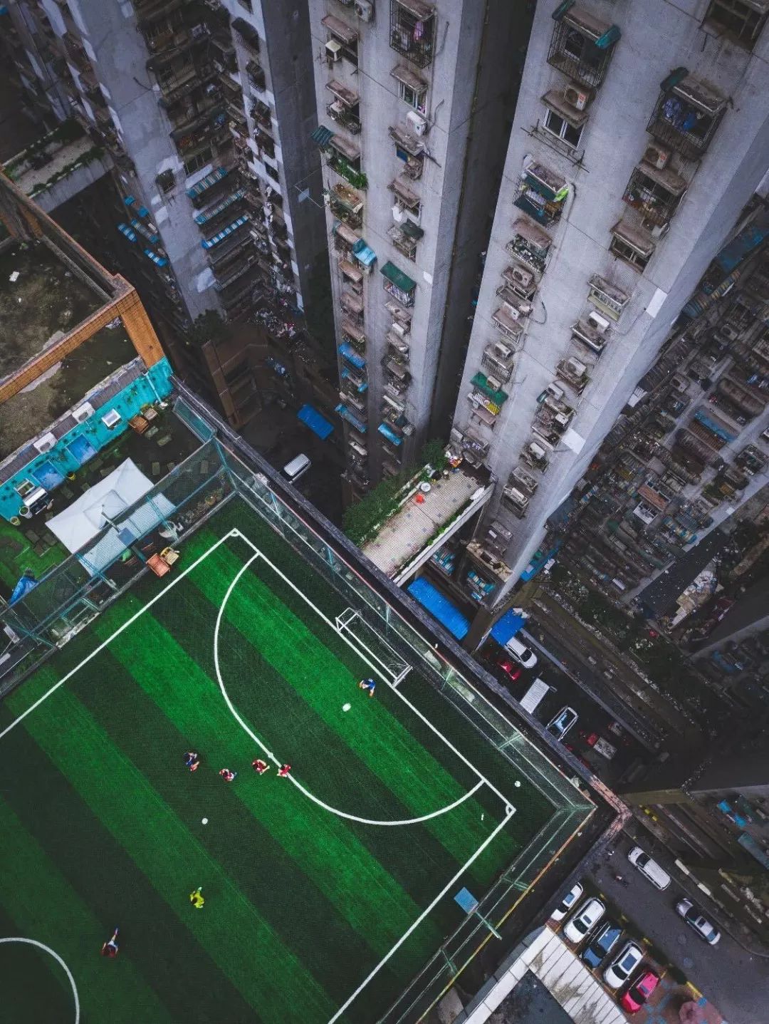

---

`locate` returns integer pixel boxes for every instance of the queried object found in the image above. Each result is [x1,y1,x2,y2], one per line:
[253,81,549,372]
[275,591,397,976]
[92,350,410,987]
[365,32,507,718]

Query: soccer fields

[0,493,558,1024]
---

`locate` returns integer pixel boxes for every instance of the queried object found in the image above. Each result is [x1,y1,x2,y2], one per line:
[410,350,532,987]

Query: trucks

[583,730,616,759]
[521,674,553,713]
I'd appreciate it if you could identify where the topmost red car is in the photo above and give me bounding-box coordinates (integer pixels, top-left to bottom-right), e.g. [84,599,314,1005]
[493,659,519,683]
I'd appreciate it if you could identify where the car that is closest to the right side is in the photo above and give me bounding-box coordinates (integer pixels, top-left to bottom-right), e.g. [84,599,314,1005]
[674,897,722,947]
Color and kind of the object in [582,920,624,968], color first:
blue car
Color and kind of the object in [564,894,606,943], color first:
white car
